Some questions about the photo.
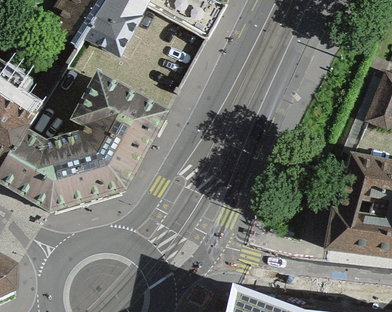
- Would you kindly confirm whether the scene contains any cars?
Yes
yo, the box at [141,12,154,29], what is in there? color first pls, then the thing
gray vehicle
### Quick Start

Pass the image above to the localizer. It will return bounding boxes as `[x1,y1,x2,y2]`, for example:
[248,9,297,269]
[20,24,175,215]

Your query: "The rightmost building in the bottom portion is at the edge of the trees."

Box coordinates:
[324,151,392,260]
